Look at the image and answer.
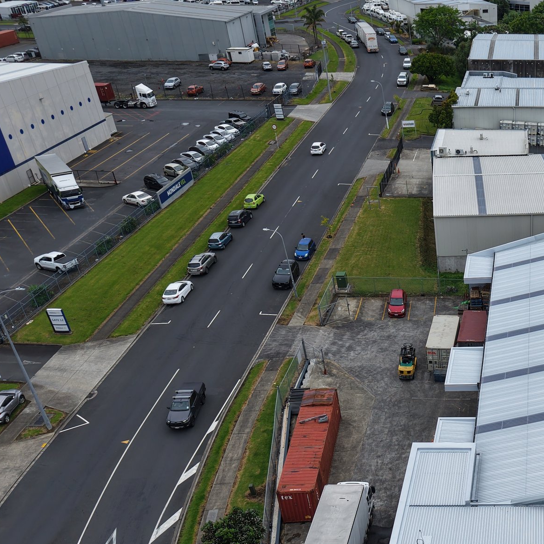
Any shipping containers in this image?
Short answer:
Yes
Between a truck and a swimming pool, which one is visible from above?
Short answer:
truck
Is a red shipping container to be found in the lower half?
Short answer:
Yes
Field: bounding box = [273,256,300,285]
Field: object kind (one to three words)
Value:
car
